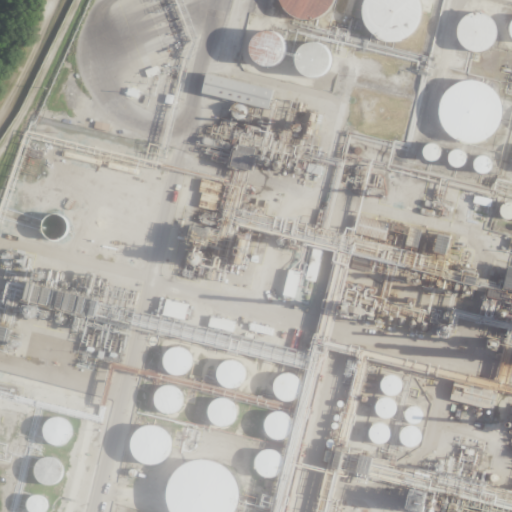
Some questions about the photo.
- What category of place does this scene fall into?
industrial area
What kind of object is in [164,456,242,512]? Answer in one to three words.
storage tank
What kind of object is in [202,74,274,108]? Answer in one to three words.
shed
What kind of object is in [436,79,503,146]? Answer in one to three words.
storage tank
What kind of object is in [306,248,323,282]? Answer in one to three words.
building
